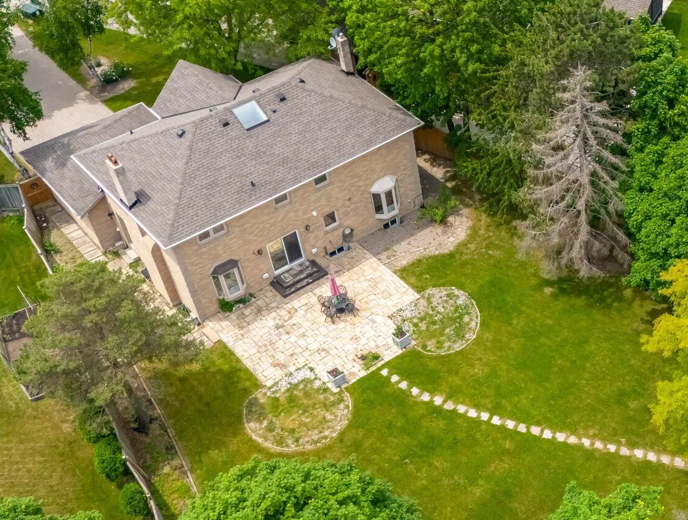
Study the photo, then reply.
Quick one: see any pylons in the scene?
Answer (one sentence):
No, there isn't any pylon down there.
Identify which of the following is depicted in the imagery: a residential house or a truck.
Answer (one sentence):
Of the two, only a residential house appears.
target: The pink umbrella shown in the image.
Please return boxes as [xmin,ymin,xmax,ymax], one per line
[329,278,342,304]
